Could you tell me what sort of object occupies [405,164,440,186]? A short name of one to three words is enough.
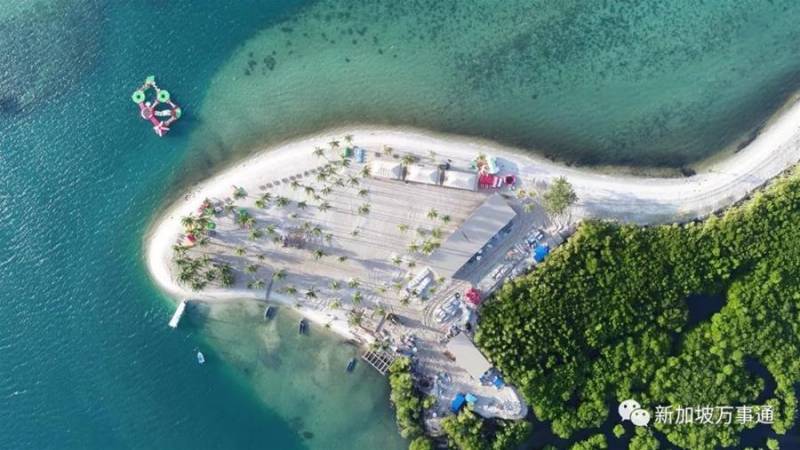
tent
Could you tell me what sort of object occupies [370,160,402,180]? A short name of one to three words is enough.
tent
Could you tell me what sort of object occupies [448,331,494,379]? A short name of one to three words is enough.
shed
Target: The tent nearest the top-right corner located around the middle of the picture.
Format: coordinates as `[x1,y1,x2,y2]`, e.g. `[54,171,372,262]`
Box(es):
[442,169,477,191]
